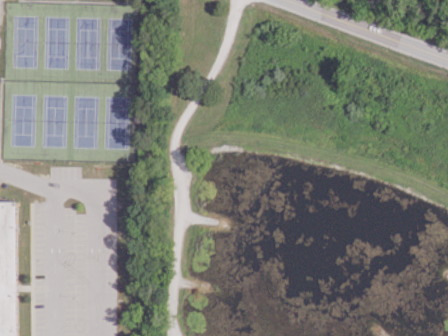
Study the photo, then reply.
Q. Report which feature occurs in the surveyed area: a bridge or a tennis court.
tennis court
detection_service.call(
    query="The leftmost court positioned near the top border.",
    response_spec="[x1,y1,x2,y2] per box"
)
[12,16,39,70]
